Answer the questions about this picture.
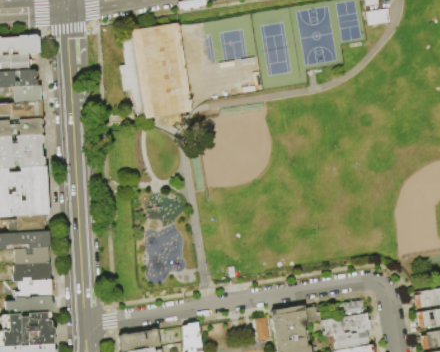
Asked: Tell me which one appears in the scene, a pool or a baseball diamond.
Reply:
baseball diamond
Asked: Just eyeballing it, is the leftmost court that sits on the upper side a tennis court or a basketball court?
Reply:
tennis court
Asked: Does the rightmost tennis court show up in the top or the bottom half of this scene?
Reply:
top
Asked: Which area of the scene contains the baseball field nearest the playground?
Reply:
center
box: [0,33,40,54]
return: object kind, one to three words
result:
building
